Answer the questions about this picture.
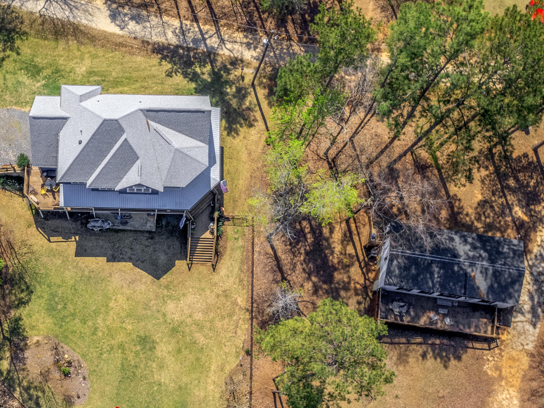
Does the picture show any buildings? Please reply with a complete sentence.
Yes, the picture does show a building.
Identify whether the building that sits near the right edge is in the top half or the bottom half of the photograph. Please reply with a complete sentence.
Seen from above, the building that sits near the right edge lies in the bottom half of the view.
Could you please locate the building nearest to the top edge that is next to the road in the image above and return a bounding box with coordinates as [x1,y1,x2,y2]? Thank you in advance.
[0,83,222,265]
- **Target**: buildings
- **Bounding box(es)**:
[0,83,222,265]
[362,222,526,344]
